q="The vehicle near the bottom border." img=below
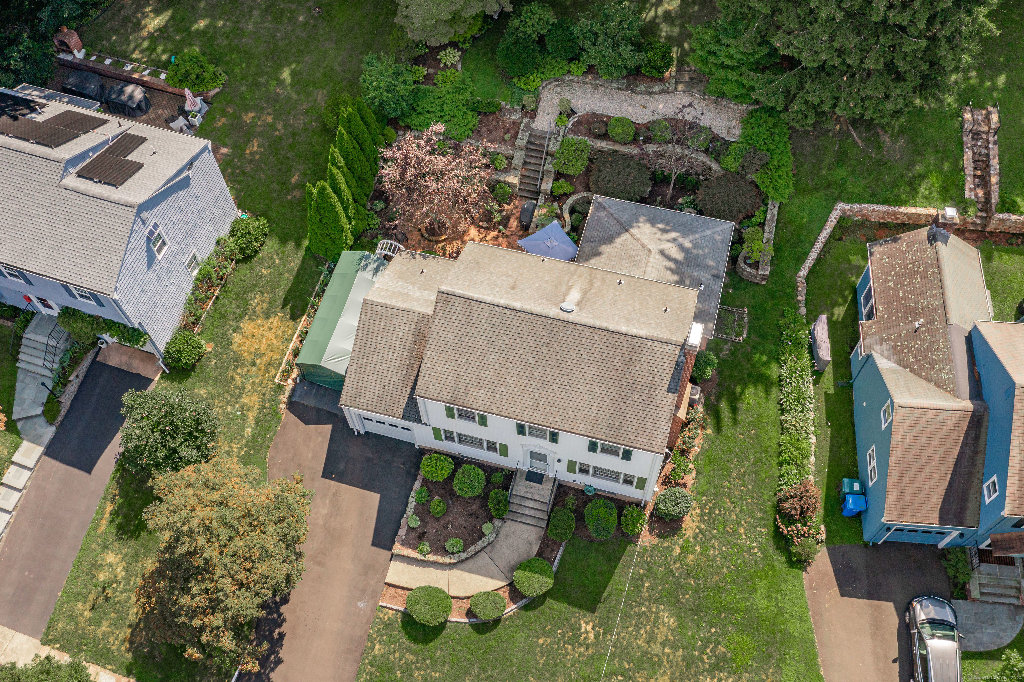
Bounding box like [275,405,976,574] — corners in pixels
[901,600,958,682]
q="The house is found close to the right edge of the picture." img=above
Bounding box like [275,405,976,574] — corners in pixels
[845,206,1024,582]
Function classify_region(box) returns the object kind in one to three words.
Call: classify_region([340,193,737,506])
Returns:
house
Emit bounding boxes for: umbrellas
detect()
[183,89,196,111]
[518,221,577,259]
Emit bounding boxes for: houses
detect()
[0,87,239,371]
[845,206,1024,582]
[340,193,737,506]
